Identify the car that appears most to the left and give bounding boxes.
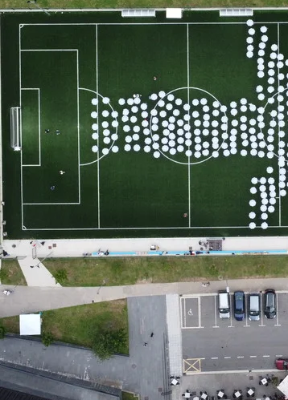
[218,291,231,319]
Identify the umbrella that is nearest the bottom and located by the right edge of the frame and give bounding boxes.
[275,377,288,398]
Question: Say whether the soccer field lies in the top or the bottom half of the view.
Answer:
top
